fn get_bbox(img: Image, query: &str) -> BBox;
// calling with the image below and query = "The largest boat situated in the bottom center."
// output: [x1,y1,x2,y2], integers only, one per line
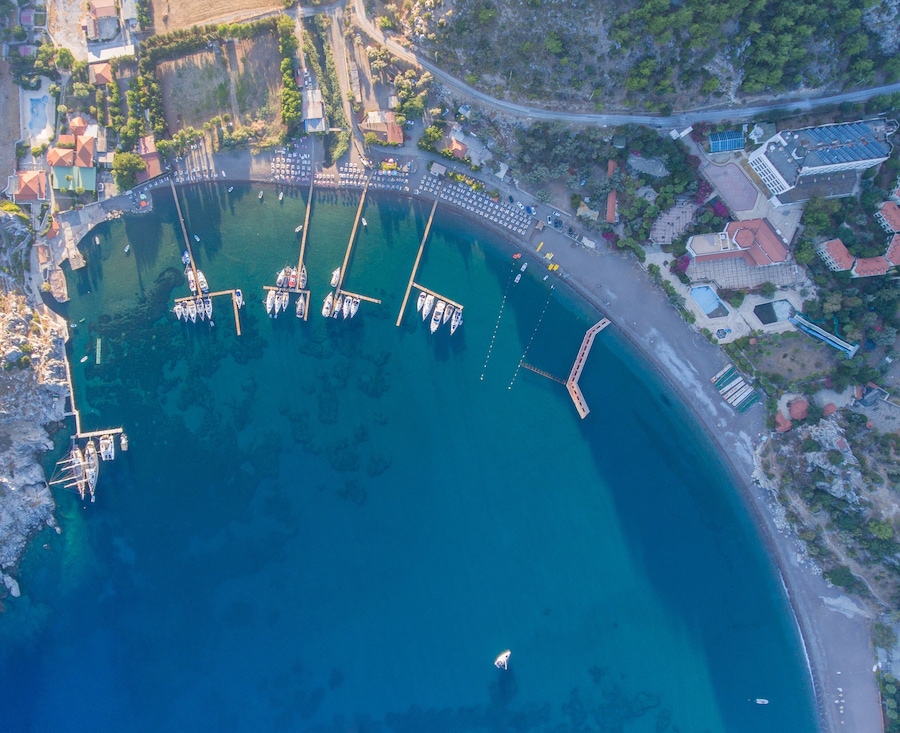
[495,650,510,668]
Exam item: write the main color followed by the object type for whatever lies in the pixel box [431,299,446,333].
white boat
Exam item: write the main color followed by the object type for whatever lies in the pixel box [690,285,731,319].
blue swimming pool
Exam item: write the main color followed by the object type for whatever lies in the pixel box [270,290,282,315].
white boat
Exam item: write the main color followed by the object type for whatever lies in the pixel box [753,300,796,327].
blue swimming pool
